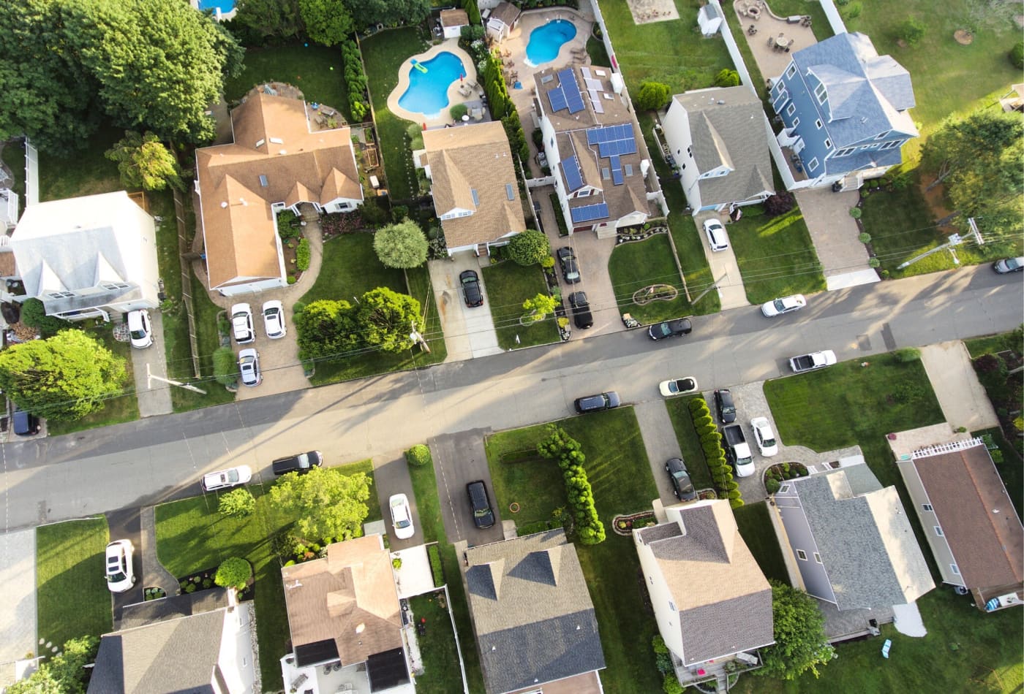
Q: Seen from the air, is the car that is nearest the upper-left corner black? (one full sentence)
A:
No, the car that is nearest the upper-left corner is white.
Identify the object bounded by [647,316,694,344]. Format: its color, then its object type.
black car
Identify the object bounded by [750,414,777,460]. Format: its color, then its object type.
white car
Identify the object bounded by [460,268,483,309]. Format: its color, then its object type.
black car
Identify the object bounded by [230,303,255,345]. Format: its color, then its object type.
white car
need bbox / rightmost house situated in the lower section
[891,427,1024,620]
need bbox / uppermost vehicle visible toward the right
[702,218,730,255]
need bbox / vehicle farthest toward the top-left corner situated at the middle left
[128,309,154,349]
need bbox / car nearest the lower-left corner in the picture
[104,541,134,591]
